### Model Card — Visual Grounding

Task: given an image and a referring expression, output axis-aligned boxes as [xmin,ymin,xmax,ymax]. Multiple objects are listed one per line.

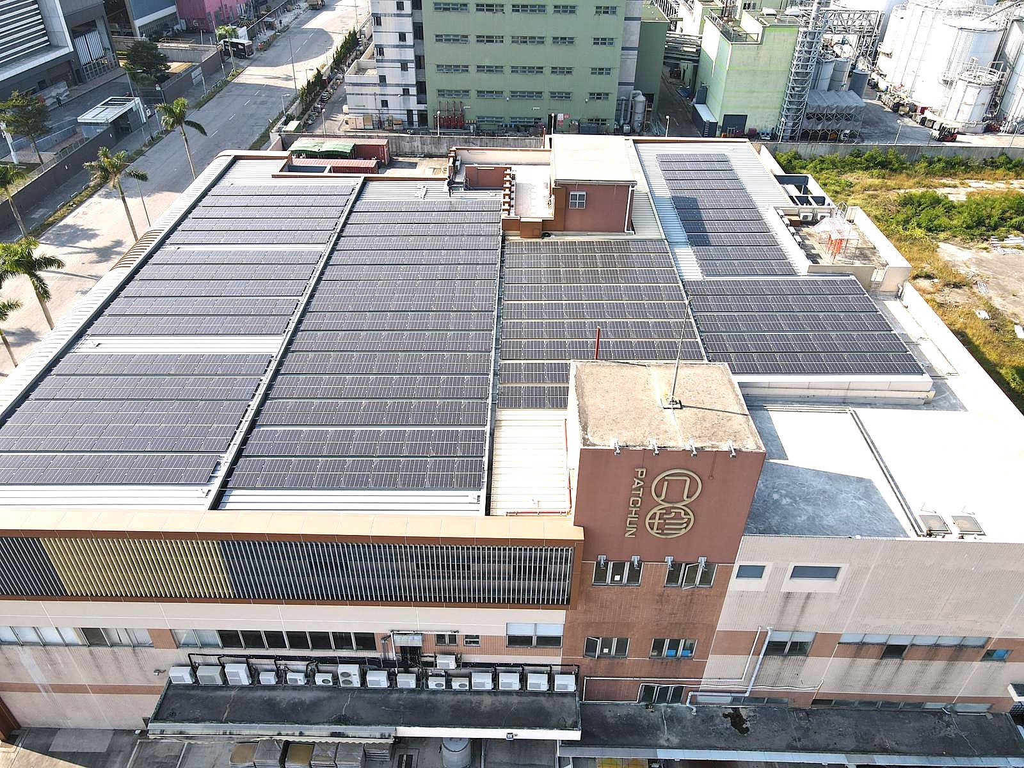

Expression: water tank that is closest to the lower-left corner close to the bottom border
[442,738,472,768]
